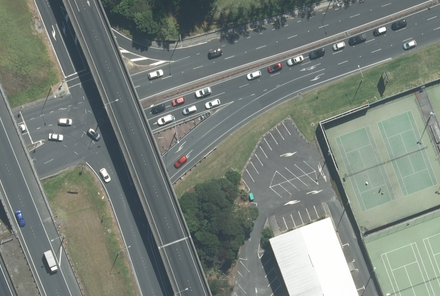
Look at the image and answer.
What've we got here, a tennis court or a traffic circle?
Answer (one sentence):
I can see a tennis court in this picture.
